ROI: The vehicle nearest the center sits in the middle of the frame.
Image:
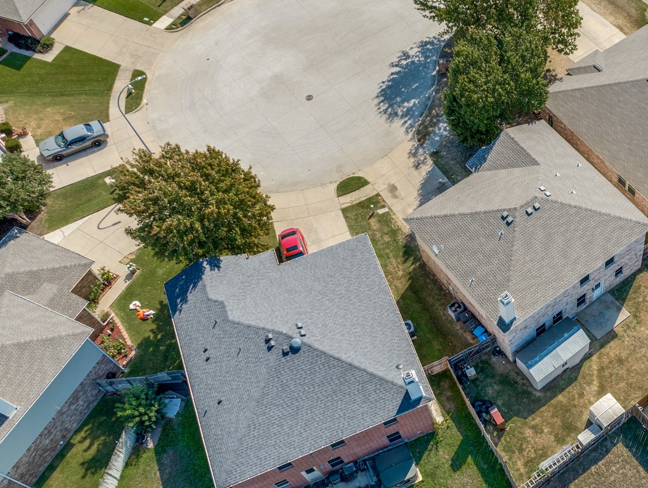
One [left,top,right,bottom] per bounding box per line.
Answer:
[275,221,310,261]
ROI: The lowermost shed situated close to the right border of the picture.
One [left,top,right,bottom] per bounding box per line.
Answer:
[589,394,624,432]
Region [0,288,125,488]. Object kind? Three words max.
house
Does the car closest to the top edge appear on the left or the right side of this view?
left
